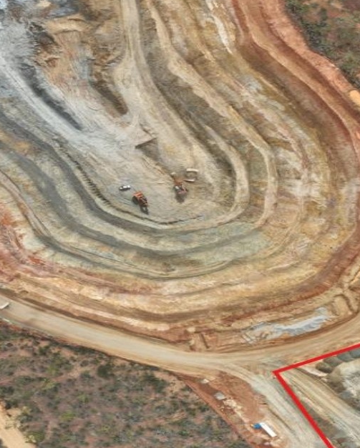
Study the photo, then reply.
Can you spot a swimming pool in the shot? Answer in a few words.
No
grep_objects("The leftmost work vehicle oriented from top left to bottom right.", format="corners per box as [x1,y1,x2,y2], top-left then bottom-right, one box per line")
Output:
[133,189,147,209]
